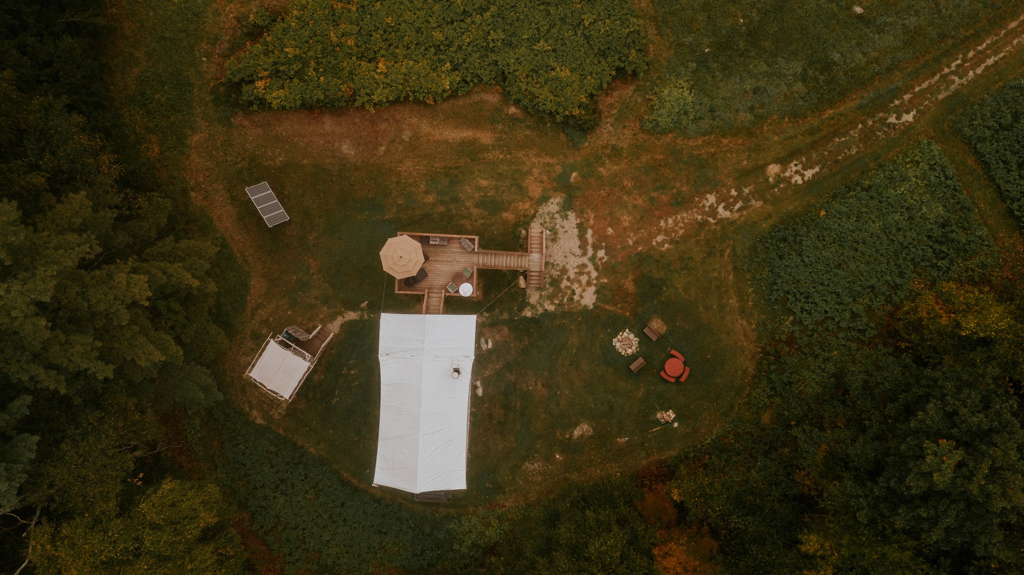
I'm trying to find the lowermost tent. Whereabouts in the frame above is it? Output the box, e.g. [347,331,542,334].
[373,313,478,502]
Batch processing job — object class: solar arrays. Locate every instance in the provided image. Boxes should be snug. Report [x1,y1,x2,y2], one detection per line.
[246,182,289,227]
